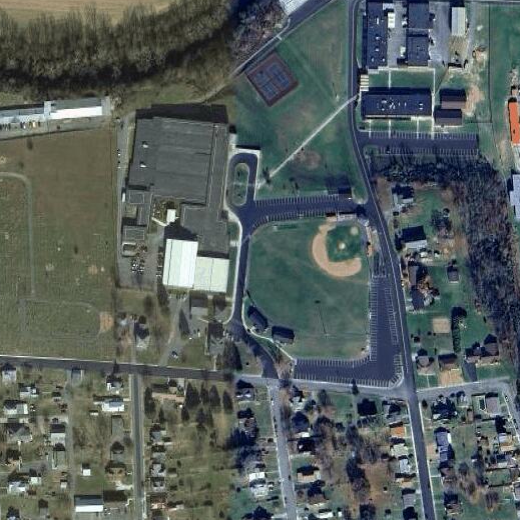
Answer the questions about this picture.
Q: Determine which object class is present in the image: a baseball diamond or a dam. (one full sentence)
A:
This aerial view contains a baseball diamond.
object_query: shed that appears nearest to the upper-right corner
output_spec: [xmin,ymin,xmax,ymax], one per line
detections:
[452,6,465,35]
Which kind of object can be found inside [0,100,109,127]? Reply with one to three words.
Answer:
building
